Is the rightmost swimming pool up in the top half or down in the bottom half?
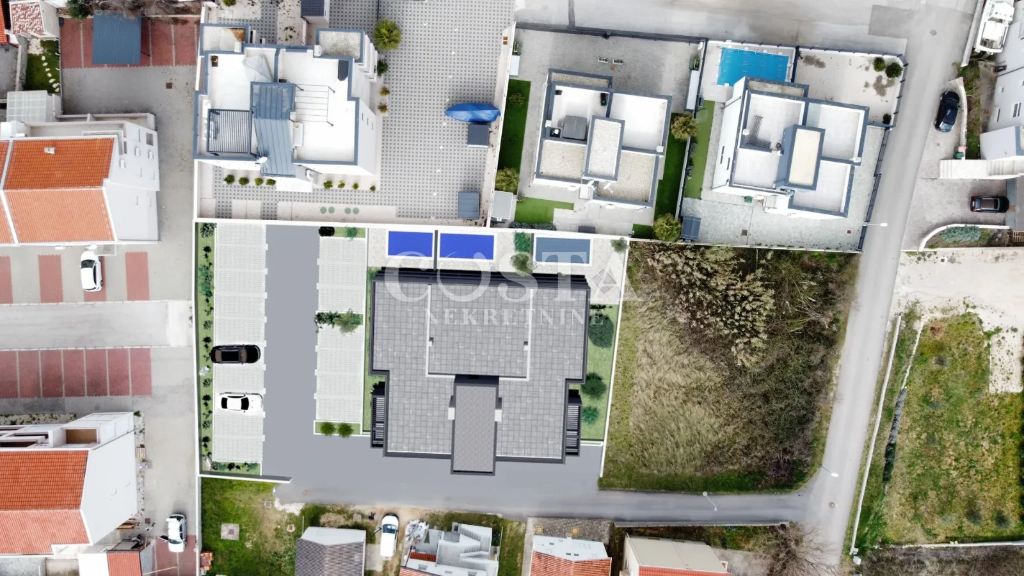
top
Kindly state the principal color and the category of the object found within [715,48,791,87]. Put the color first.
blue swimming pool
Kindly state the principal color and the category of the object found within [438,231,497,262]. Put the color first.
blue swimming pool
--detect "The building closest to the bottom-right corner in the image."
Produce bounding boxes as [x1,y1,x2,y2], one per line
[624,525,729,576]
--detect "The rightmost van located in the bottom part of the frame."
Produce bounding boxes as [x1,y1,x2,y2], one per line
[371,510,400,563]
